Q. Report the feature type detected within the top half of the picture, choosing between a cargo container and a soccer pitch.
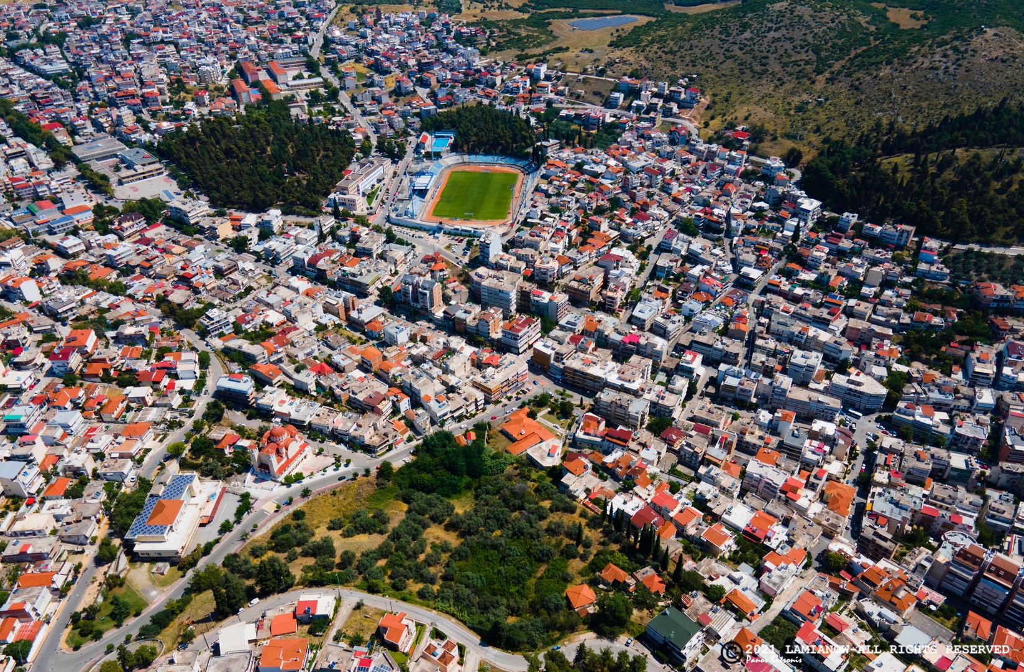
soccer pitch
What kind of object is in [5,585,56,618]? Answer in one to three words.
building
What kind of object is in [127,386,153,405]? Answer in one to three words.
house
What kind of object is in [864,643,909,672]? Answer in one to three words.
house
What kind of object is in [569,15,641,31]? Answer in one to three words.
solar array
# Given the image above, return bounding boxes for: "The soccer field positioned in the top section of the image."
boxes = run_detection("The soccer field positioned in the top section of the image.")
[432,171,518,219]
